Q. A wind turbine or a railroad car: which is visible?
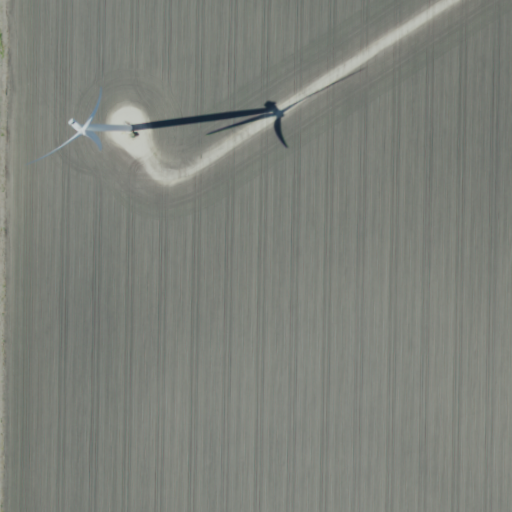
wind turbine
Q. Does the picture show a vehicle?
No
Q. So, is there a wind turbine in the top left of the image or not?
Yes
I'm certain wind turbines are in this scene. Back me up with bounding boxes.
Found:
[28,88,136,164]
